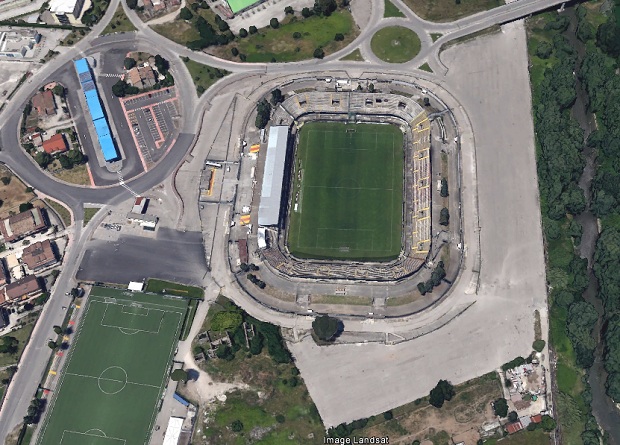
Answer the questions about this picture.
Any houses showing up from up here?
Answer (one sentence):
Yes, there's a house here.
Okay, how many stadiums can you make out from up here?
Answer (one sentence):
Only 1 stadium is visible.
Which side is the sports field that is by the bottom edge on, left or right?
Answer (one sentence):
The sports field that is by the bottom edge appears in the left half of the scene.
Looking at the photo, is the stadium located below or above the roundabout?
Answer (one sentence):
The position of the stadium is below the roundabout.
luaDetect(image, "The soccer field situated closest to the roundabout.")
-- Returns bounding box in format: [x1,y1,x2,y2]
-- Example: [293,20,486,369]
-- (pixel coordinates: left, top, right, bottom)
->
[287,122,403,262]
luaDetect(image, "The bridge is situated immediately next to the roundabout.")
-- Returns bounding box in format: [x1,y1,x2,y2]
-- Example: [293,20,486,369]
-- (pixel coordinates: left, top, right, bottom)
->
[438,0,577,41]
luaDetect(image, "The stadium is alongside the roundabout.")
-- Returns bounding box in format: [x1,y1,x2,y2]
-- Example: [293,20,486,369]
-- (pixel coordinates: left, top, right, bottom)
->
[257,81,449,285]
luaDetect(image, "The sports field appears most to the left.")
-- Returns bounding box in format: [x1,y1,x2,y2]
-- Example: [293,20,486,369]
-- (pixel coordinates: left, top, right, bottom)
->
[36,287,190,445]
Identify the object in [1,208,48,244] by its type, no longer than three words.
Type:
building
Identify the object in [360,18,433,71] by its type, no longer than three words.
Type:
roundabout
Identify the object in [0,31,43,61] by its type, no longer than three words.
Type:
building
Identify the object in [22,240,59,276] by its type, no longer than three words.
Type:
house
